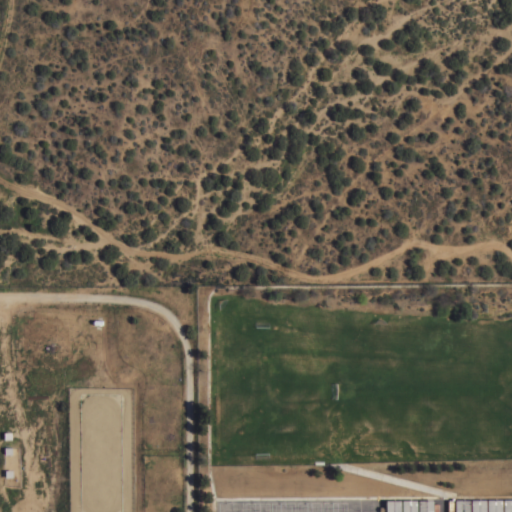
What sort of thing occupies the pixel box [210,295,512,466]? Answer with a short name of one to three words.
sports field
